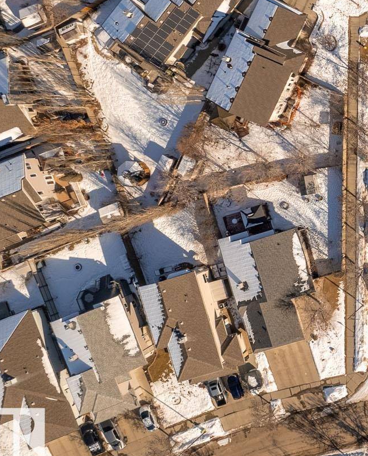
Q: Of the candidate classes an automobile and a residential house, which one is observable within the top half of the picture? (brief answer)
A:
residential house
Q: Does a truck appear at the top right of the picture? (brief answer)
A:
No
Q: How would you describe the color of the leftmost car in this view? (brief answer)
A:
black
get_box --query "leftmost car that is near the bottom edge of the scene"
[75,422,105,456]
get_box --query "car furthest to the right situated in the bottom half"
[225,379,246,401]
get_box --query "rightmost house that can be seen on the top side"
[207,0,314,127]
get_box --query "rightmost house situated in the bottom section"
[222,226,322,350]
